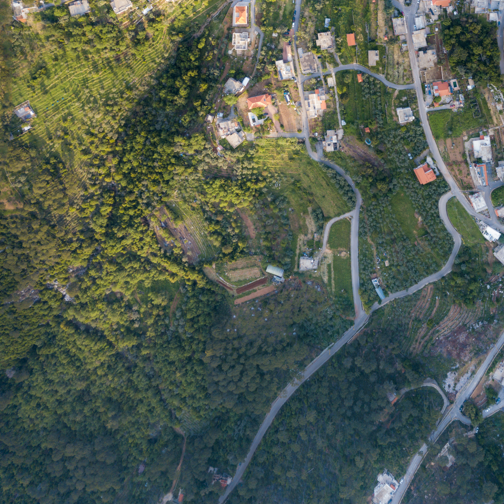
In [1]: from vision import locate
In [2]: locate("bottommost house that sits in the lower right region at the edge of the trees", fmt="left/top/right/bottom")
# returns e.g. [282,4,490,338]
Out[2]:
[375,469,397,504]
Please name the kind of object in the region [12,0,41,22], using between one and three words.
house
